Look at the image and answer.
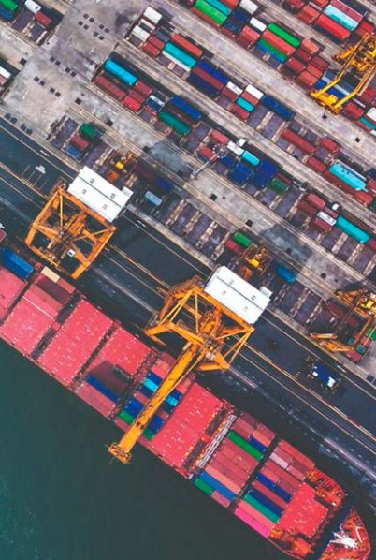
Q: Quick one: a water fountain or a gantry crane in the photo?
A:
gantry crane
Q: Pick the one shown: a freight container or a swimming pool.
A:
freight container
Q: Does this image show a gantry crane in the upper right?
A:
Yes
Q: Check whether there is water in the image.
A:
Yes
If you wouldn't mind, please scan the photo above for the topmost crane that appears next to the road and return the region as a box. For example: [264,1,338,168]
[308,35,376,117]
